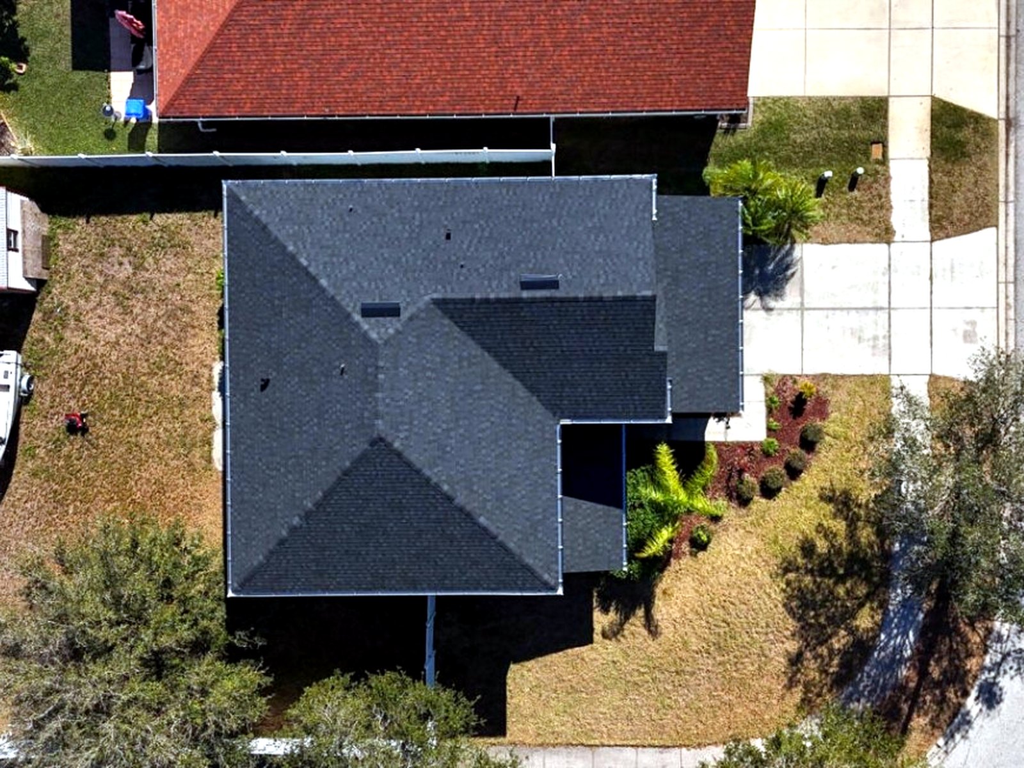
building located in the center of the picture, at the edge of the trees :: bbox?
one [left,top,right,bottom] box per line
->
[224,175,744,598]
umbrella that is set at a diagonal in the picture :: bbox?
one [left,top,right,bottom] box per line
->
[110,14,155,48]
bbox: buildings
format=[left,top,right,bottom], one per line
[0,186,38,296]
[224,175,744,598]
[154,0,758,131]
